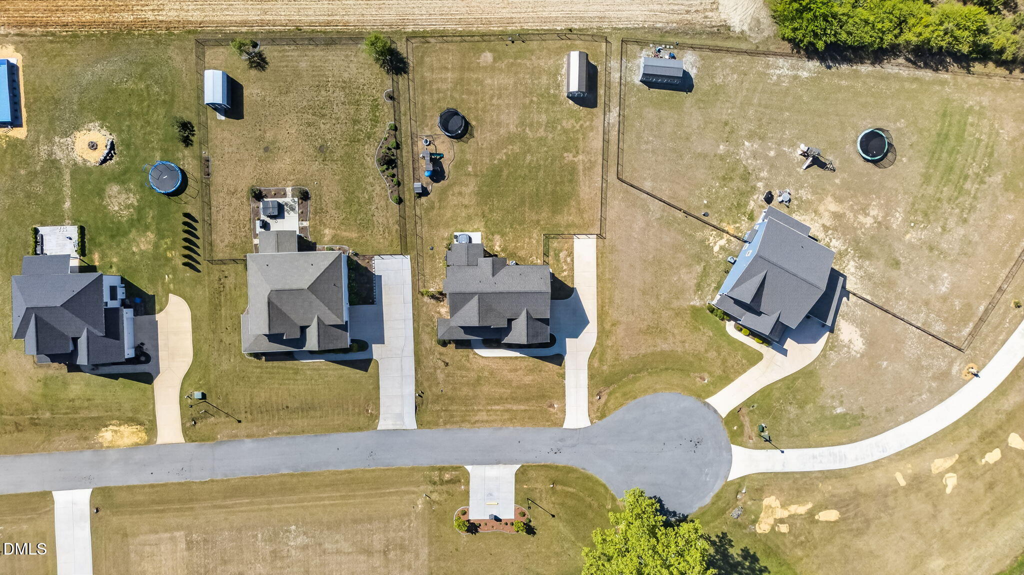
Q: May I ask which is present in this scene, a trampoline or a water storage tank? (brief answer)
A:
trampoline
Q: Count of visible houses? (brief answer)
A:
four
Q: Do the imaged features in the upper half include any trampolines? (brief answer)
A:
Yes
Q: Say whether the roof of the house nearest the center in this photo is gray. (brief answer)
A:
Yes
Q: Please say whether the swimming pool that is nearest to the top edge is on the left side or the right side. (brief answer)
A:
left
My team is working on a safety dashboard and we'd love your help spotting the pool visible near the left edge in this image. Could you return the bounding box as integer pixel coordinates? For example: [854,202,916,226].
[0,59,22,130]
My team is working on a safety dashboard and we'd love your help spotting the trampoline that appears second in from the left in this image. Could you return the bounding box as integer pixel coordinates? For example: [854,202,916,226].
[438,106,468,138]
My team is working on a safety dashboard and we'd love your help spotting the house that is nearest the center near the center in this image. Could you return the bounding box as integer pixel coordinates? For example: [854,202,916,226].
[438,243,551,345]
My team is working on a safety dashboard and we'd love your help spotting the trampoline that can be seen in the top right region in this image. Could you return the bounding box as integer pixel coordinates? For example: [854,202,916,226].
[855,126,897,163]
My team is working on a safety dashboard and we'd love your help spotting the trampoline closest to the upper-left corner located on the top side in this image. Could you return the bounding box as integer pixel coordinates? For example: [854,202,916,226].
[141,158,185,195]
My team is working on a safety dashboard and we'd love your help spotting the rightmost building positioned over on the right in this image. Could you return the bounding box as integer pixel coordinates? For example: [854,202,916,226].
[712,206,844,343]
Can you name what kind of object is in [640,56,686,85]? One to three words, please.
shed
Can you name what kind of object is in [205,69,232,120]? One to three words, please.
shed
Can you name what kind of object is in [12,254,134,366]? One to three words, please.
house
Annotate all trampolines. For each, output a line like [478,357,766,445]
[141,158,185,195]
[855,126,897,163]
[438,106,468,138]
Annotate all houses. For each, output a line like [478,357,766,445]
[438,243,551,345]
[241,230,352,353]
[12,254,134,366]
[712,206,844,343]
